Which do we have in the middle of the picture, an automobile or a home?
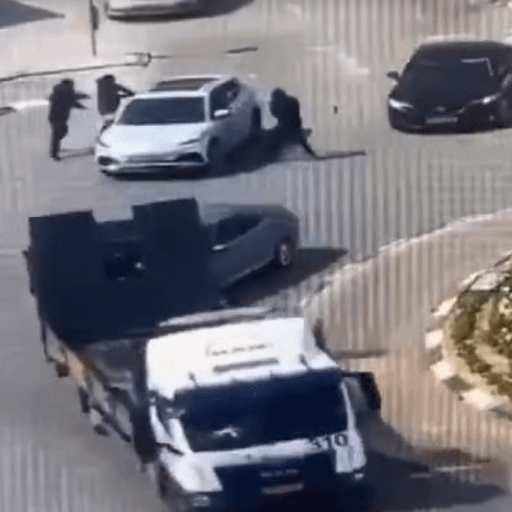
automobile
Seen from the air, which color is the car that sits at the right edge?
black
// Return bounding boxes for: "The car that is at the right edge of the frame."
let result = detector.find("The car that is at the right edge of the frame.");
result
[384,35,512,135]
